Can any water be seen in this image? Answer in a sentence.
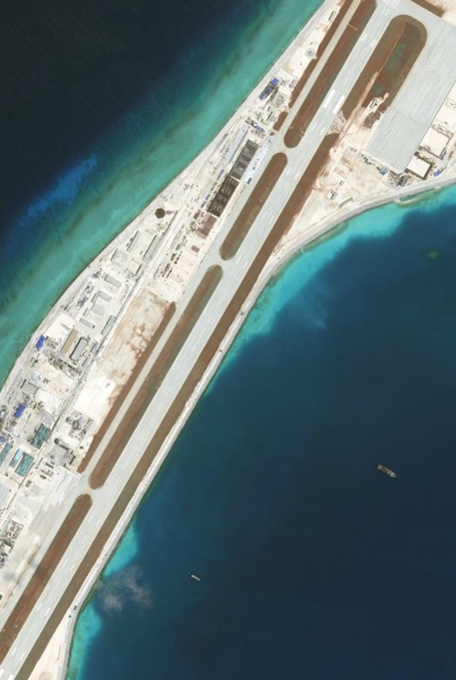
Yes, some water is visible.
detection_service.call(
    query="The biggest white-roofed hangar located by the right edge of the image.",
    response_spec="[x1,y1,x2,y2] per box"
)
[418,127,451,159]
